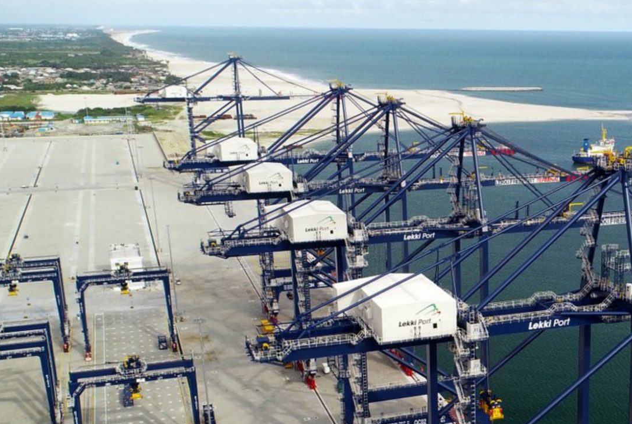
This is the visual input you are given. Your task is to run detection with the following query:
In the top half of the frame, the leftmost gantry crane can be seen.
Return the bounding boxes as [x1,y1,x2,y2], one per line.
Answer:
[133,53,326,191]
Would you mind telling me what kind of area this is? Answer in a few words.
port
